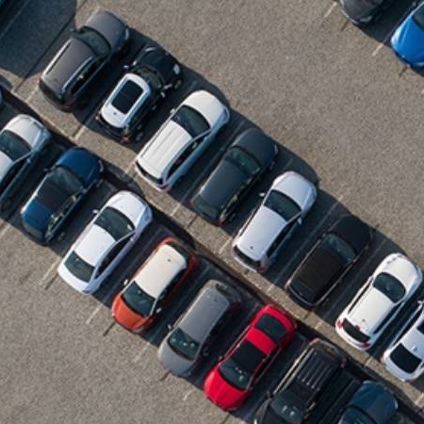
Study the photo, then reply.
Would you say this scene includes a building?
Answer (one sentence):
No, the photo shows no building.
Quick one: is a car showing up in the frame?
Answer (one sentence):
Yes, looking at the shot, I can spot a car.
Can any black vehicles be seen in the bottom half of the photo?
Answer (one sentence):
Yes, a black vehicle shows up in the bottom half of the photo.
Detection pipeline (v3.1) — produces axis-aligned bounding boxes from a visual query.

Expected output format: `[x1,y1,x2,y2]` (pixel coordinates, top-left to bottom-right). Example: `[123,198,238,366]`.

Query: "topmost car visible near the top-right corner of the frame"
[344,0,405,37]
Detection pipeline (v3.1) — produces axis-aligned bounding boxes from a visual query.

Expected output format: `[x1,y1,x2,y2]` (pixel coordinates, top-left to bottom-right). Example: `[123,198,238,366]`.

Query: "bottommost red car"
[206,306,296,410]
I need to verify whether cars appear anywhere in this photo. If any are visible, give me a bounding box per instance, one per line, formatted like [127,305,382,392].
[333,253,422,352]
[159,278,244,373]
[57,191,152,296]
[344,0,405,37]
[114,237,199,331]
[206,306,296,410]
[190,128,279,227]
[228,174,317,273]
[331,382,397,424]
[35,8,132,114]
[97,48,179,140]
[253,337,349,424]
[0,115,52,208]
[134,90,228,193]
[395,8,424,79]
[15,147,106,245]
[284,212,373,312]
[383,298,424,379]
